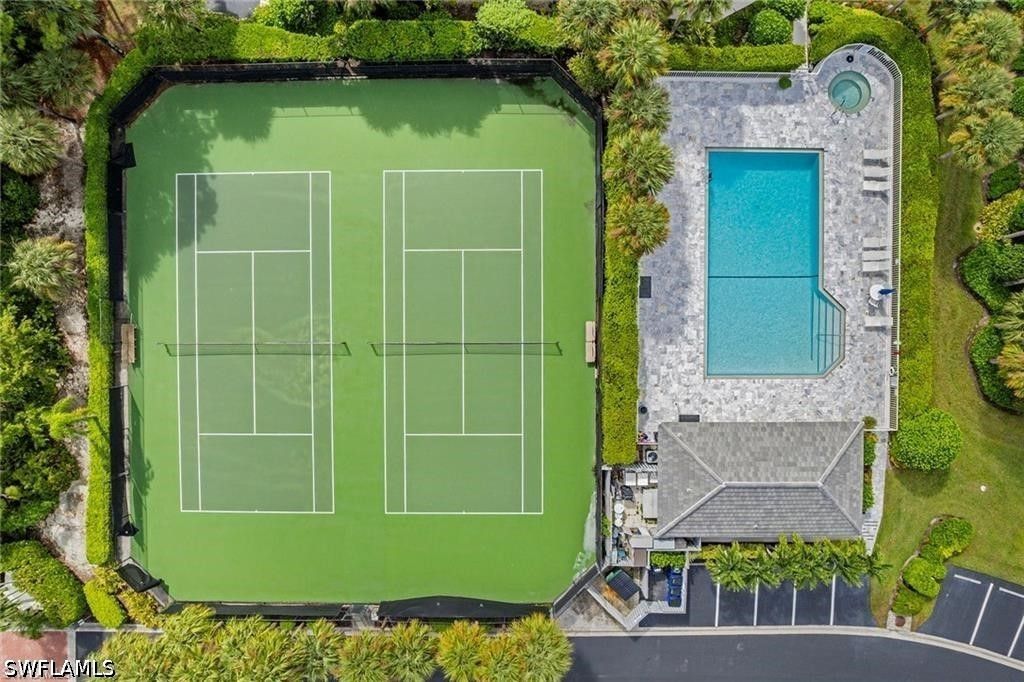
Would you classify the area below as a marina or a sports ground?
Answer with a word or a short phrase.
sports ground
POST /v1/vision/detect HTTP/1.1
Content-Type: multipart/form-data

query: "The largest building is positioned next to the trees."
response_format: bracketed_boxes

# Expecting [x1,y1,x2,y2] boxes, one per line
[657,420,866,542]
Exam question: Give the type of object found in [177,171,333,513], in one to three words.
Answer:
tennis court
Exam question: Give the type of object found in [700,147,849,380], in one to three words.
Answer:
swimming pool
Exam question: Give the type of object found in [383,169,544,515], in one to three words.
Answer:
tennis court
